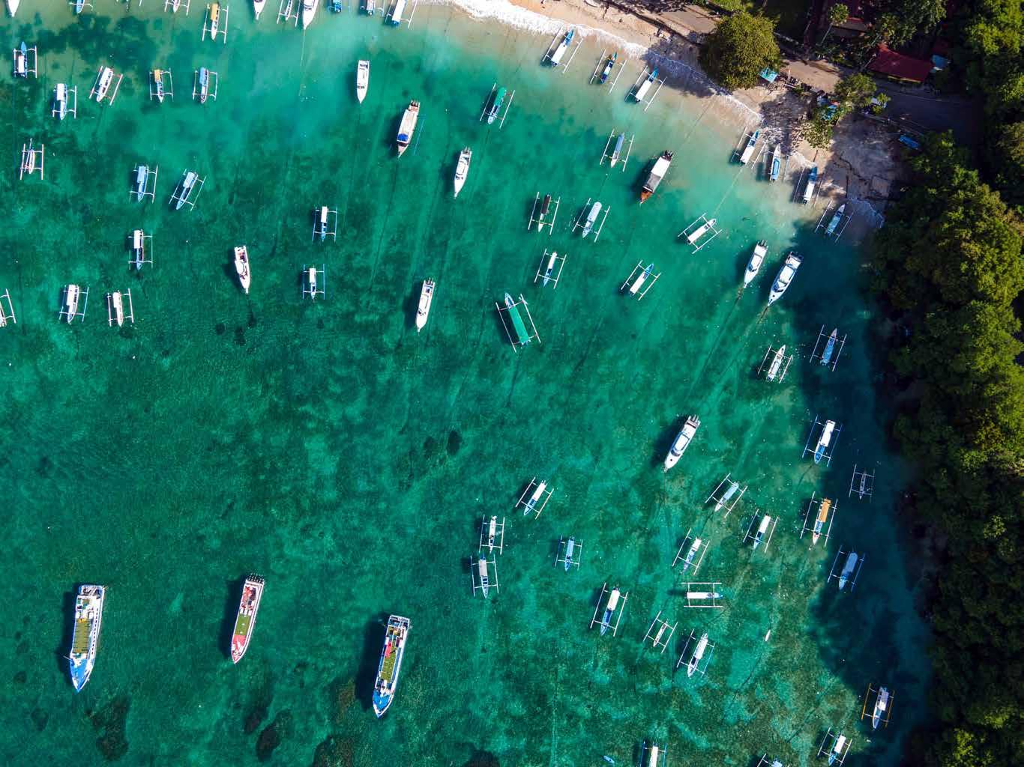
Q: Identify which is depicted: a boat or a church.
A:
boat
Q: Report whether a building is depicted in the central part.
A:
No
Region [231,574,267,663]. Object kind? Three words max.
ship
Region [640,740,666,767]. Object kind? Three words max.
boat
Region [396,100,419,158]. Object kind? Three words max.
boat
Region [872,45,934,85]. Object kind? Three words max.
house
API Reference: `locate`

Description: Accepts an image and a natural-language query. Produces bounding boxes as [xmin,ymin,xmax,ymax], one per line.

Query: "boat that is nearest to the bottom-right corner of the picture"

[862,683,895,730]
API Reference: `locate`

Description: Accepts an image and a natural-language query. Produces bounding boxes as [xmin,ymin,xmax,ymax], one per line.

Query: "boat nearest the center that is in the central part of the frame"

[497,293,540,352]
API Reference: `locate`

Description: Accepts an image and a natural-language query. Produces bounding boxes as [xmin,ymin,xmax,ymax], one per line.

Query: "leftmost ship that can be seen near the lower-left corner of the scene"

[67,584,109,691]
